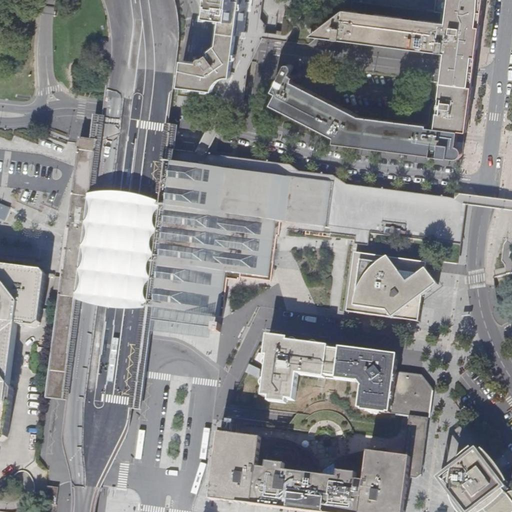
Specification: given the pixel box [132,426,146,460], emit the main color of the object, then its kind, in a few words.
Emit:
white vehicle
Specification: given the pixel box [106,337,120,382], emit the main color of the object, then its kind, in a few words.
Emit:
white vehicle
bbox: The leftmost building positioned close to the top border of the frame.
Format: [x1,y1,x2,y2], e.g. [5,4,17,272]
[175,0,240,96]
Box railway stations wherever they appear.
[150,149,332,338]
